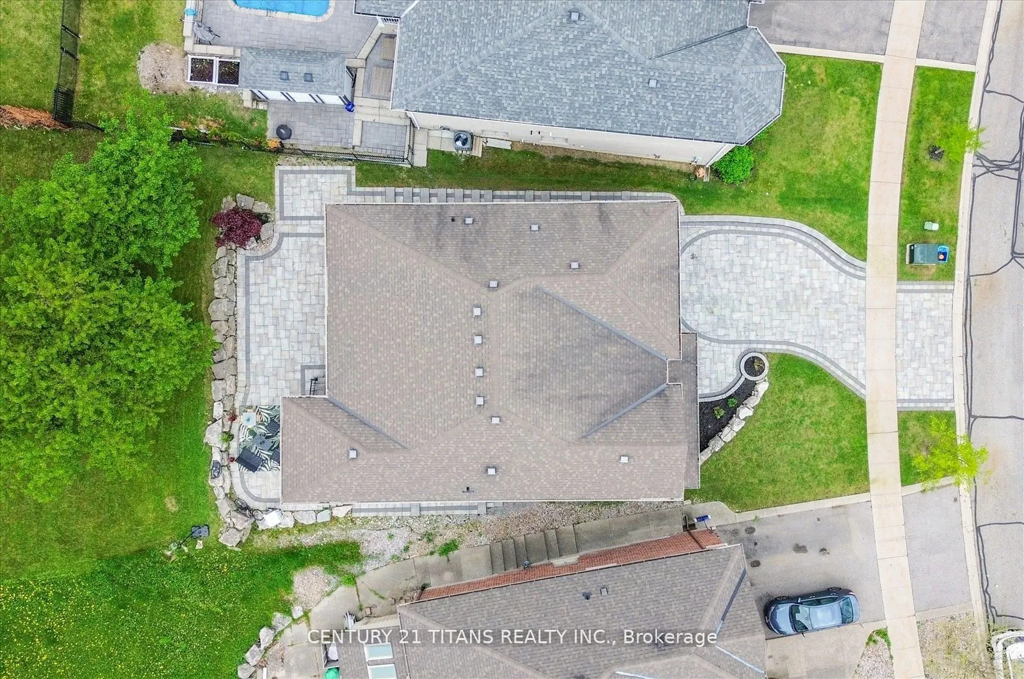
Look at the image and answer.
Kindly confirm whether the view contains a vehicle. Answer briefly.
Yes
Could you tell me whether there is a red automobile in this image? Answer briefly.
No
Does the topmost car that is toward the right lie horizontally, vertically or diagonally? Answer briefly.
horizontally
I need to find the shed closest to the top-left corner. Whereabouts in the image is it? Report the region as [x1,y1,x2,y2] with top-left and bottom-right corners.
[238,45,351,105]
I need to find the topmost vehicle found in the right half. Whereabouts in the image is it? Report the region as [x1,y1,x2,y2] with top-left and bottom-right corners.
[762,585,859,639]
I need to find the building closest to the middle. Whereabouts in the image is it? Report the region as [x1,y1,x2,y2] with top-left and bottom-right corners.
[279,199,703,506]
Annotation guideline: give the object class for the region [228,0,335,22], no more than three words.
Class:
swimming pool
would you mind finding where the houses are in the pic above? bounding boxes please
[338,515,769,679]
[352,0,789,171]
[279,199,703,506]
